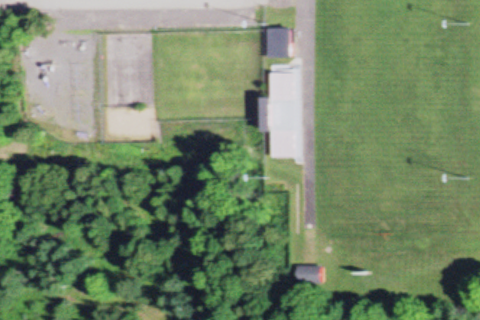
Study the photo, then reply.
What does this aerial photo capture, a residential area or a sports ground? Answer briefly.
sports ground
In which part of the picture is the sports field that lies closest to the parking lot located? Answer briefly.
top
